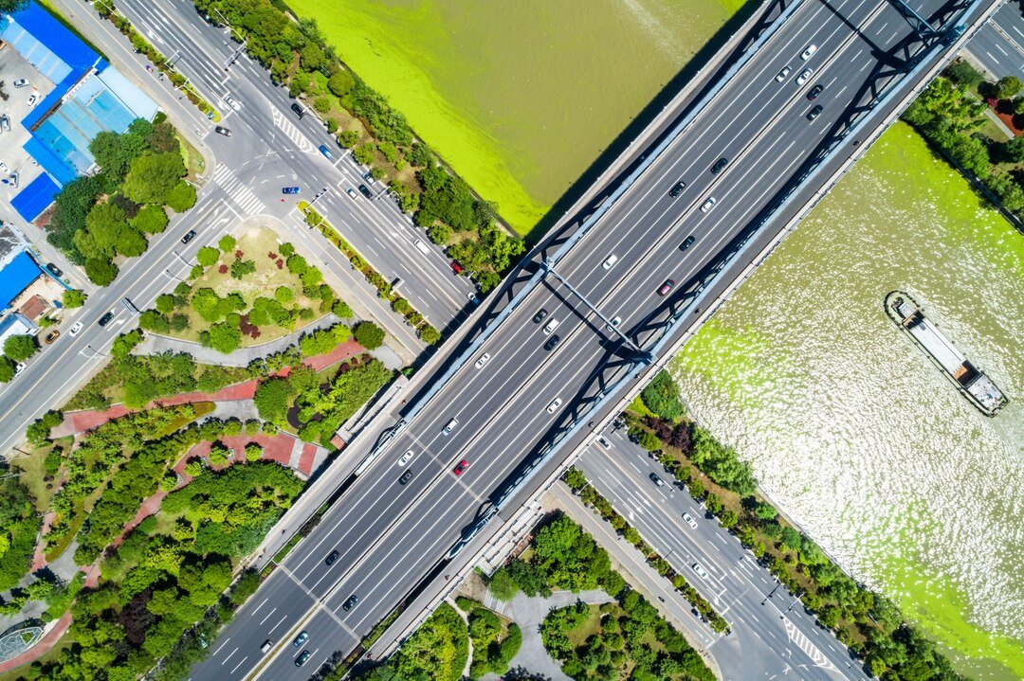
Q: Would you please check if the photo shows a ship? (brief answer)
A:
Yes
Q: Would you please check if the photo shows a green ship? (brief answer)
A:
No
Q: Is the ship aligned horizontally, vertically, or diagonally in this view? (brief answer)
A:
diagonally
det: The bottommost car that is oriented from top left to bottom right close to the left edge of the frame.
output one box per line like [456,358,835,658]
[46,261,64,279]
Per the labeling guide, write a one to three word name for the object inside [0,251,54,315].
building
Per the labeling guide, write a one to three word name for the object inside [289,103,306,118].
car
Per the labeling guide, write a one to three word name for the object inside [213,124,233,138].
car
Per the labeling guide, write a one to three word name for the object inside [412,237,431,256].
vehicle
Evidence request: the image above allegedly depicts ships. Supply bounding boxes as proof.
[880,290,1010,417]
